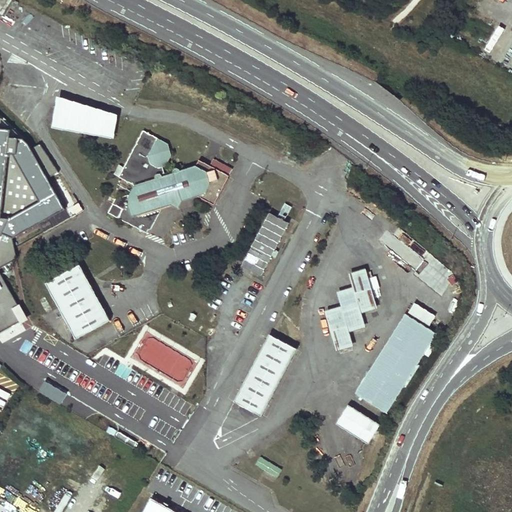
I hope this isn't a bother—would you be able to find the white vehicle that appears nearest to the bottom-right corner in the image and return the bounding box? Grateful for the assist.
[397,478,410,500]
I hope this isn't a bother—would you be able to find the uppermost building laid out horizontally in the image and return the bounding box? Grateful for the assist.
[52,96,117,140]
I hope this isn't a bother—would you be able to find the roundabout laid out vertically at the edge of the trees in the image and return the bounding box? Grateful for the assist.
[470,172,512,313]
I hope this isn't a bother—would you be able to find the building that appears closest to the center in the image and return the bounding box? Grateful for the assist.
[243,213,289,278]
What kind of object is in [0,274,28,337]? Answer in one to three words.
building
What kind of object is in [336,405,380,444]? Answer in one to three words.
shed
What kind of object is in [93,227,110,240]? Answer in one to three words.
vehicle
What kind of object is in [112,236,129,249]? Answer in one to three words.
vehicle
